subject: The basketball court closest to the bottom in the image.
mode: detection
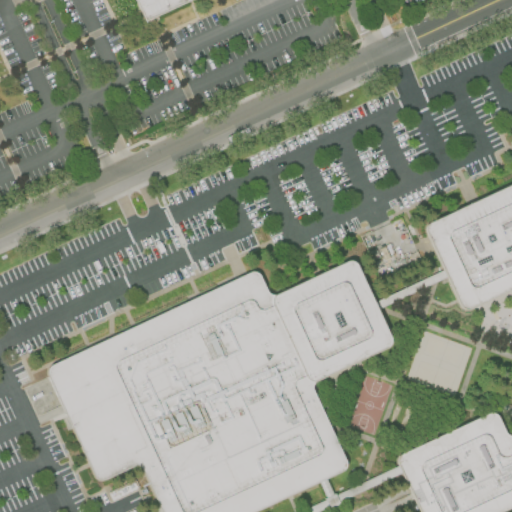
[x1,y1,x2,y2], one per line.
[352,376,392,436]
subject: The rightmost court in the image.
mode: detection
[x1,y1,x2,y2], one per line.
[410,332,472,392]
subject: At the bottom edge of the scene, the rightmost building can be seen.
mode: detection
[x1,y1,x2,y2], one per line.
[397,414,512,512]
